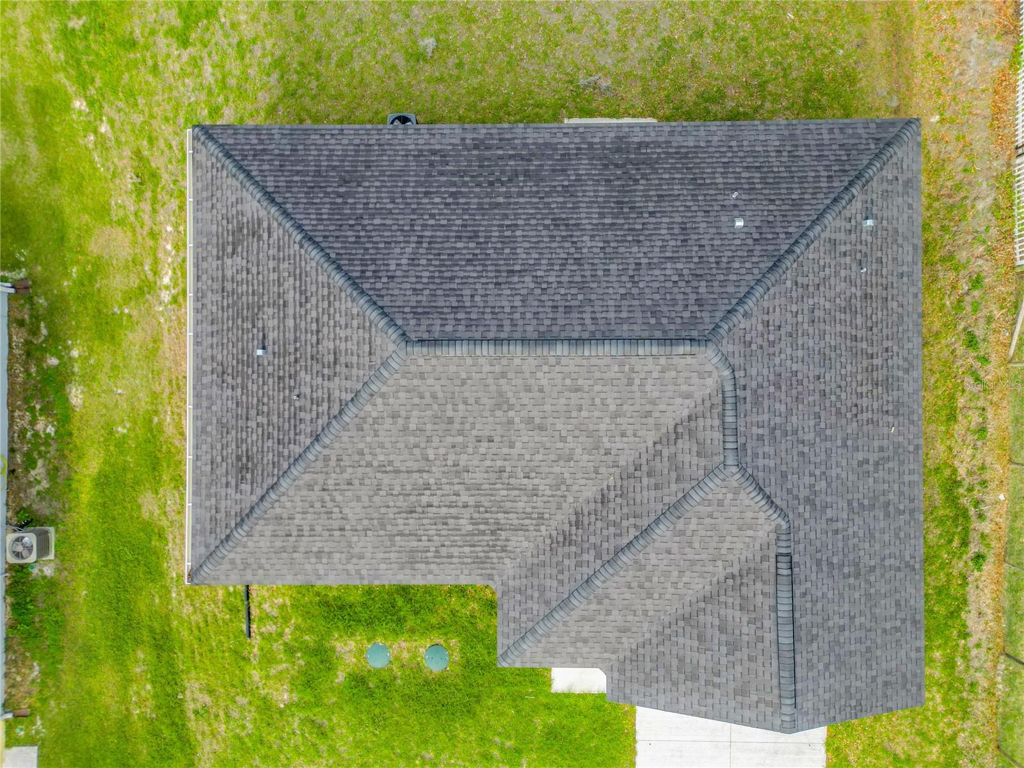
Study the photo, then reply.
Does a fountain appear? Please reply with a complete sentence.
No, no fountain is visible in the view.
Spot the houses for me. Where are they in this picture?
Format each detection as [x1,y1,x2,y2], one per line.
[186,118,925,734]
[0,282,15,768]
